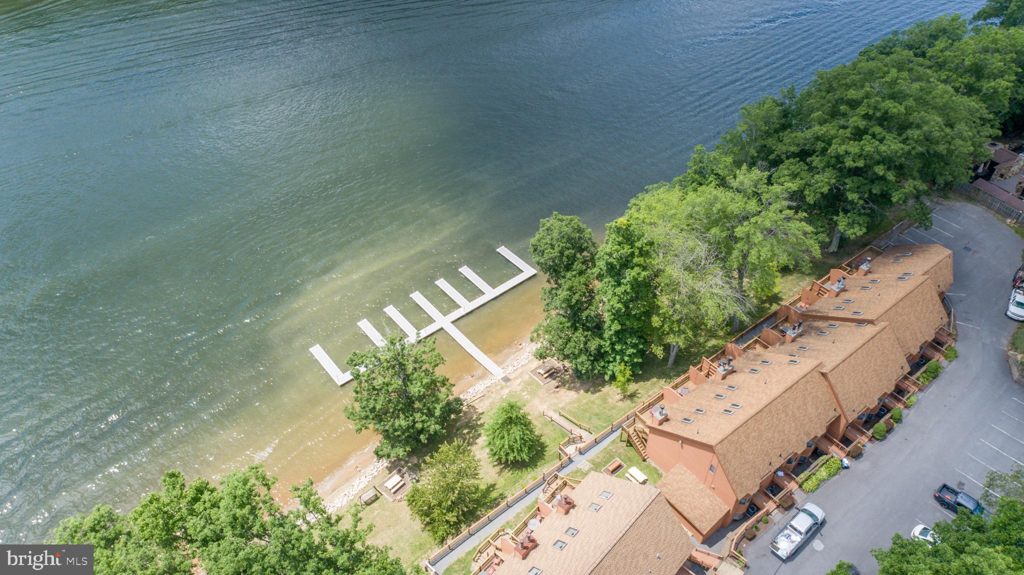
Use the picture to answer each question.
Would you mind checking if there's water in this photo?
Yes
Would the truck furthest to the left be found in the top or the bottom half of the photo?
bottom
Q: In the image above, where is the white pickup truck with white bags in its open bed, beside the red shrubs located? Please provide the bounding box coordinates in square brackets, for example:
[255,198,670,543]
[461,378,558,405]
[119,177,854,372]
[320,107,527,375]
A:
[766,504,824,564]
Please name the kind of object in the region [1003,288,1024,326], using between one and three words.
truck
